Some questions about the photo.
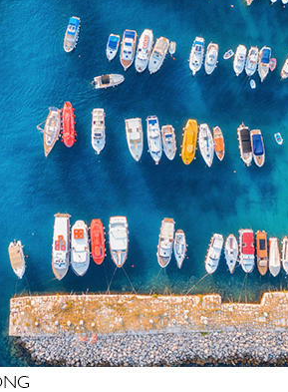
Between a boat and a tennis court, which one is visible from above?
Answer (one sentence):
This aerial view contains a boat.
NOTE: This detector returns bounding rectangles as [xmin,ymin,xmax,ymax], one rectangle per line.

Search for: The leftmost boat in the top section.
[35,105,60,156]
